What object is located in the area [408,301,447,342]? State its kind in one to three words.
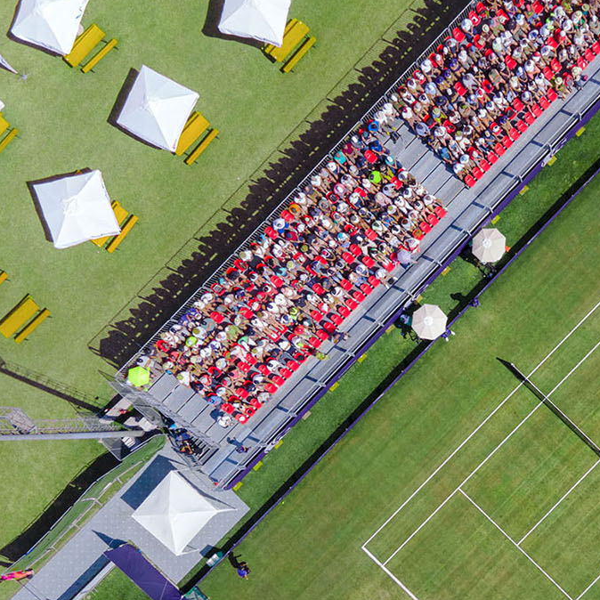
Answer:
umbrella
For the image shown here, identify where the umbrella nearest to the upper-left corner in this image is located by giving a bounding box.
[13,0,97,57]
